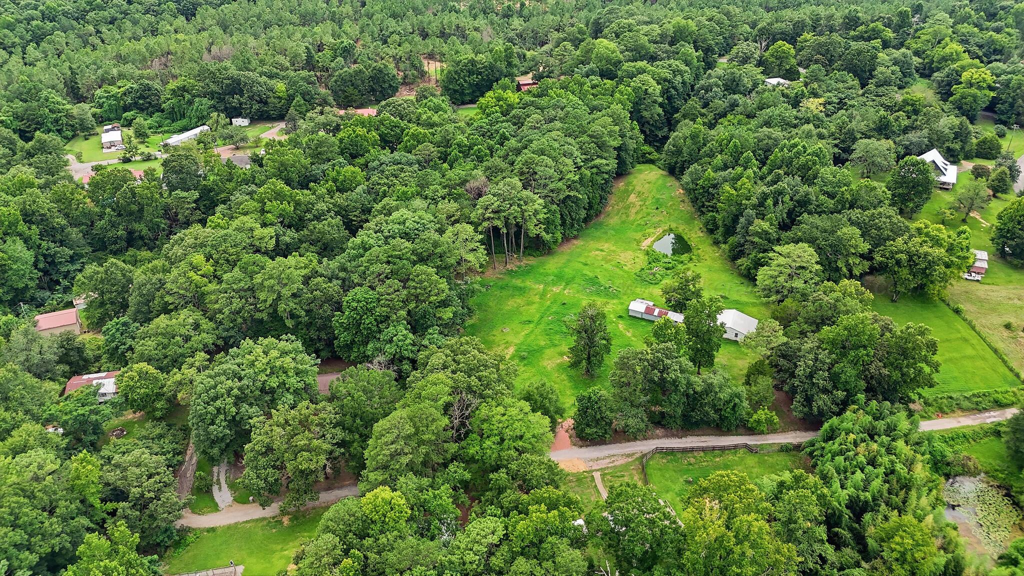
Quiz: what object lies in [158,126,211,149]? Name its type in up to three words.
house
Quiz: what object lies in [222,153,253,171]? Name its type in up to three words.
house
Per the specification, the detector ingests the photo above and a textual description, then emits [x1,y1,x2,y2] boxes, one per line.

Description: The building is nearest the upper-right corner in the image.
[912,149,963,191]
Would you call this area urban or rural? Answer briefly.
rural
